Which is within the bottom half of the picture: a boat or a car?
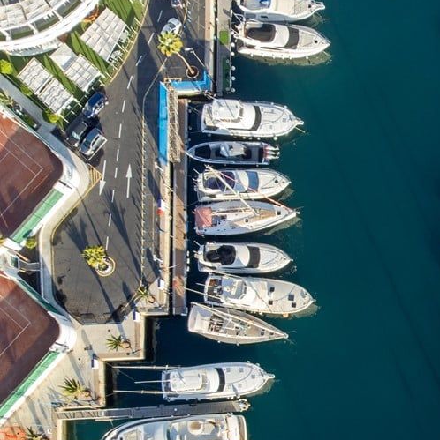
boat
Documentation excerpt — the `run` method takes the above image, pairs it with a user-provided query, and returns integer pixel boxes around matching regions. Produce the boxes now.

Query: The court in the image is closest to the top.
[0,101,86,257]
